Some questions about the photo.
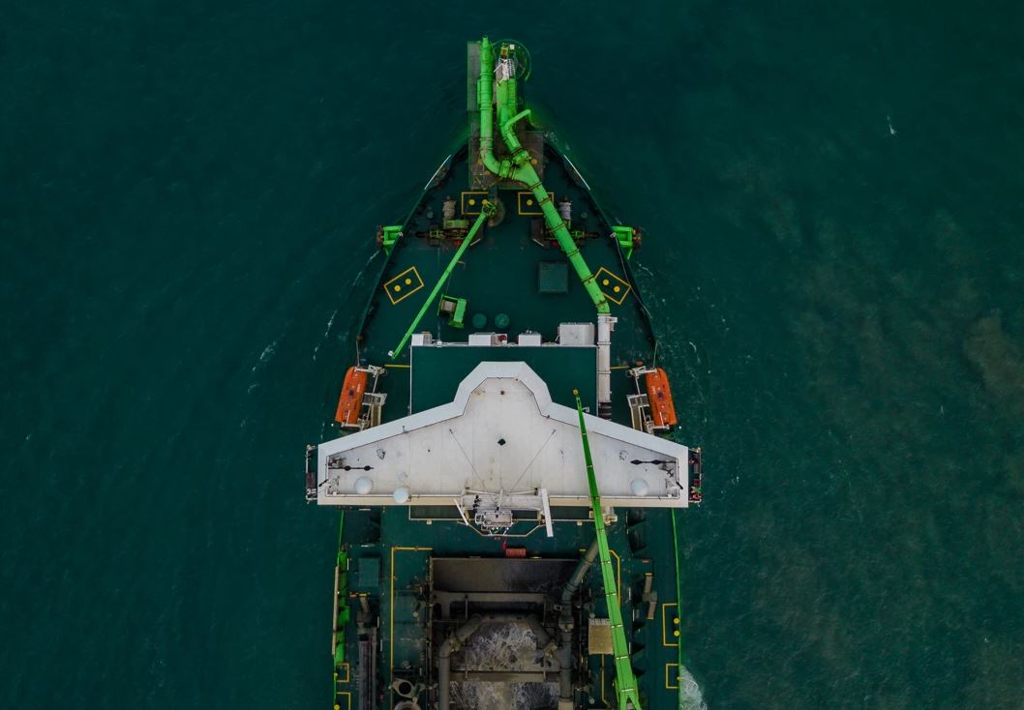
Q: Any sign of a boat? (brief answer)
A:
Yes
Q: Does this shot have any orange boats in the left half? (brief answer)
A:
Yes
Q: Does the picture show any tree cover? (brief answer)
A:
No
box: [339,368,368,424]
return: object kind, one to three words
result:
boat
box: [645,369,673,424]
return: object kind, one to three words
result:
boat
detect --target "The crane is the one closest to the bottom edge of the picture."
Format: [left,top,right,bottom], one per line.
[573,389,648,710]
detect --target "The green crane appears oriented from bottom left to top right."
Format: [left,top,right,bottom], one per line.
[388,198,506,358]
